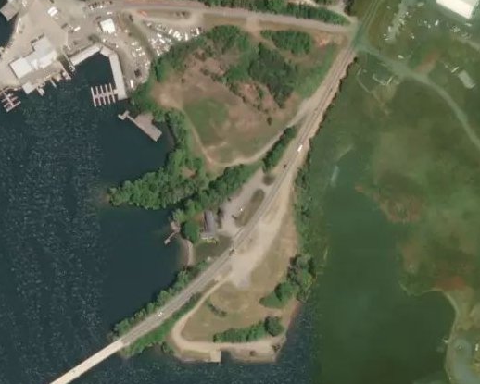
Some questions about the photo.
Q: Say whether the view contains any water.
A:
Yes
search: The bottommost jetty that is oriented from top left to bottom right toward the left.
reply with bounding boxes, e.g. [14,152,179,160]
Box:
[118,111,162,141]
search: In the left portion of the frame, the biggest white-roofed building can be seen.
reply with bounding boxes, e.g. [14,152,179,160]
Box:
[9,35,56,77]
